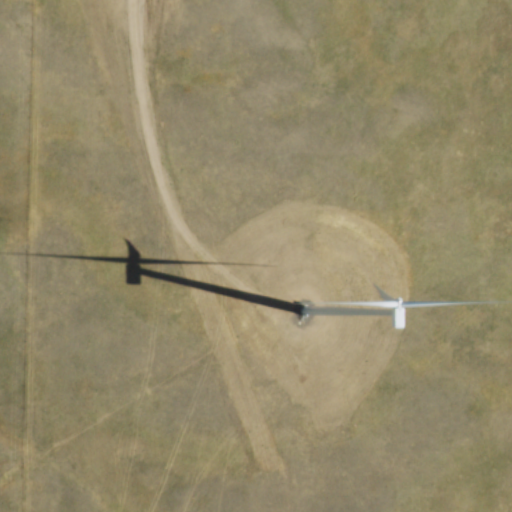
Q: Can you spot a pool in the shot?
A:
No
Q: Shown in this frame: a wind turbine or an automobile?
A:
wind turbine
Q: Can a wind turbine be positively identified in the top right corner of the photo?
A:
No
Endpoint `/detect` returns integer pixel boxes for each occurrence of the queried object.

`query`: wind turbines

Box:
[296,282,498,328]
